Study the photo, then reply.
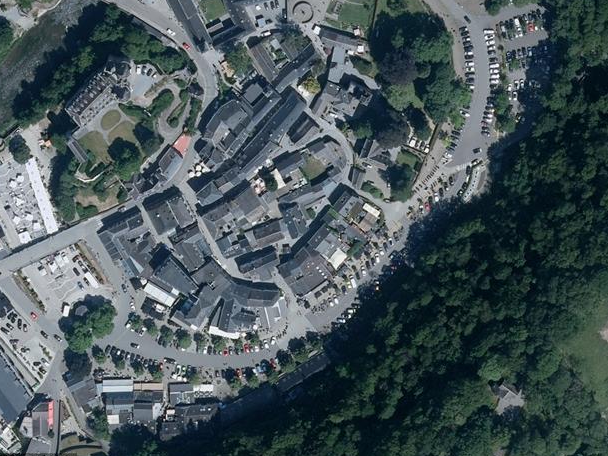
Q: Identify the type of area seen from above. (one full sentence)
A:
It's a residential area.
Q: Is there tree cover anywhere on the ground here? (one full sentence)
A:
Yes, there's tree cover in this view.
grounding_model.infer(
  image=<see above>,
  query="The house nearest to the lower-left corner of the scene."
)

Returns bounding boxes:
[0,429,21,456]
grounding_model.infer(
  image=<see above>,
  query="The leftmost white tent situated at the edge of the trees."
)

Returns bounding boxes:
[26,159,58,234]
